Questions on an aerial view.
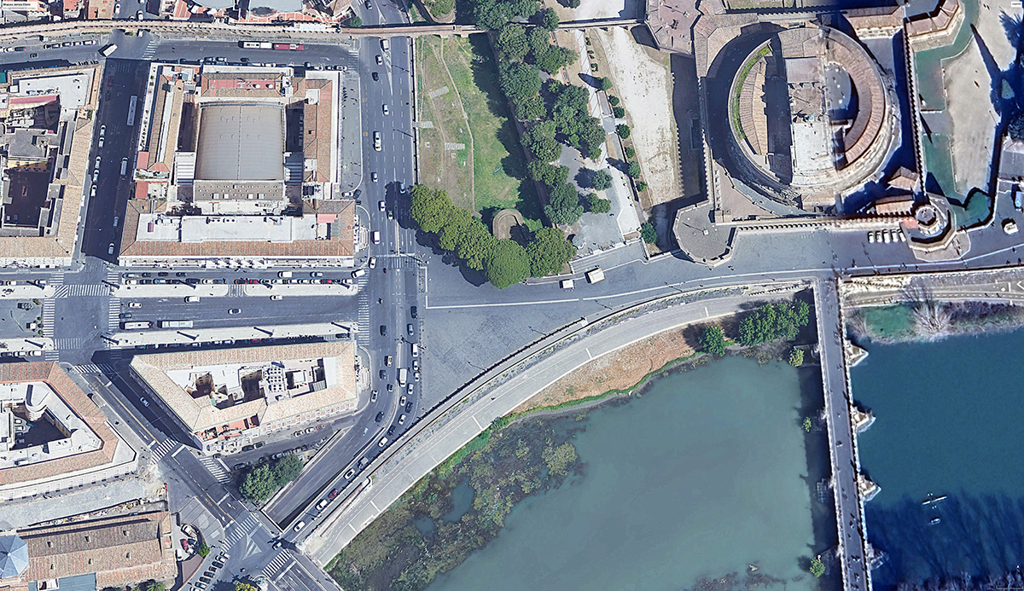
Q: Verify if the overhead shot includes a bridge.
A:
Yes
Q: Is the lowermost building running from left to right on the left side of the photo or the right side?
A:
left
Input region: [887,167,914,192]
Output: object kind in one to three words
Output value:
building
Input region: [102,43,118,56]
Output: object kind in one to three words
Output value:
vehicle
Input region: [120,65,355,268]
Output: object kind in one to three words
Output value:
building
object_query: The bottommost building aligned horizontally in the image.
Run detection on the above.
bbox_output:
[0,512,176,591]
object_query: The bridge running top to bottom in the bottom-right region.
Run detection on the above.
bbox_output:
[811,271,883,591]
